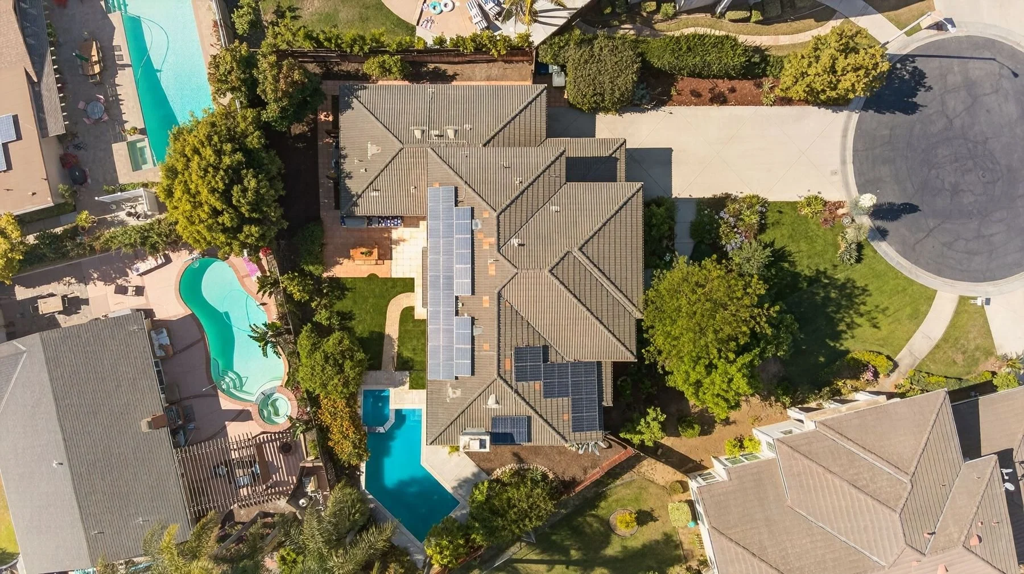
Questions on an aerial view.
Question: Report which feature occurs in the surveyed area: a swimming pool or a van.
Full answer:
I can see a swimming pool in this picture.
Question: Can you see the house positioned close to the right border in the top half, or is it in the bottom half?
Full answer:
You can find the house positioned close to the right border in the bottom half.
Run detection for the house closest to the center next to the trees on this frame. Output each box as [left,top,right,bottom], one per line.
[339,83,644,453]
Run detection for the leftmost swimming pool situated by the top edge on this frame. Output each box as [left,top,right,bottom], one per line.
[106,0,222,166]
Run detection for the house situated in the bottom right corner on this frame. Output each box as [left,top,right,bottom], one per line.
[689,379,1024,574]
